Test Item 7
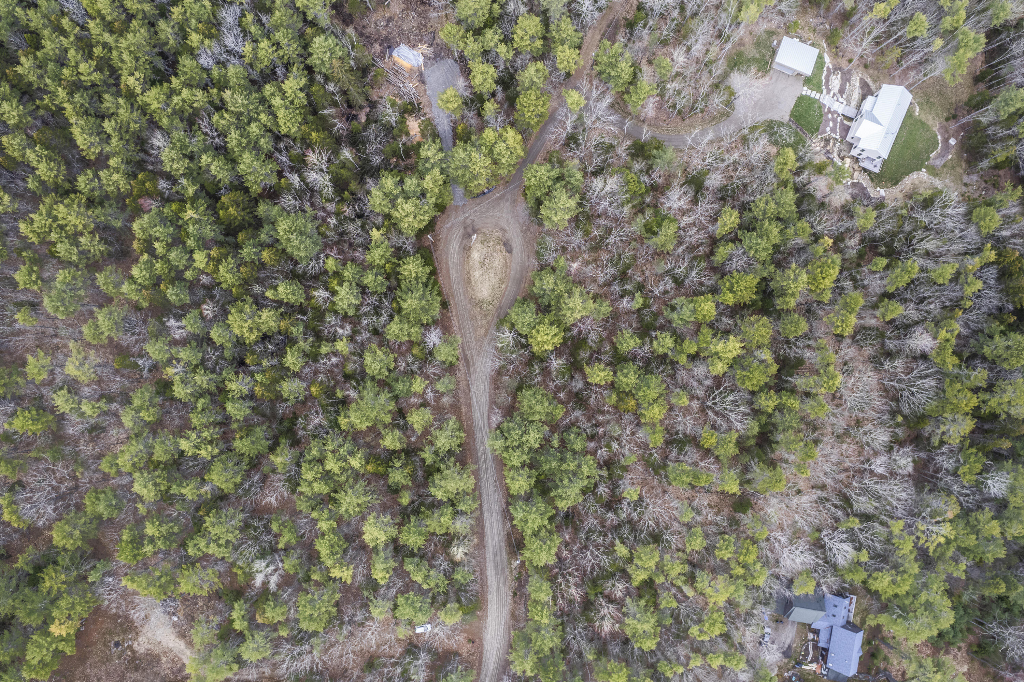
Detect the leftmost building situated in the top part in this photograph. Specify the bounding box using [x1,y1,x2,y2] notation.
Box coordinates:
[770,36,819,77]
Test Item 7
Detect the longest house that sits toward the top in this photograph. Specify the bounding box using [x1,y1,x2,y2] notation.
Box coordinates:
[845,84,913,172]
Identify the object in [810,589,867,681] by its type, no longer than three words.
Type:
house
